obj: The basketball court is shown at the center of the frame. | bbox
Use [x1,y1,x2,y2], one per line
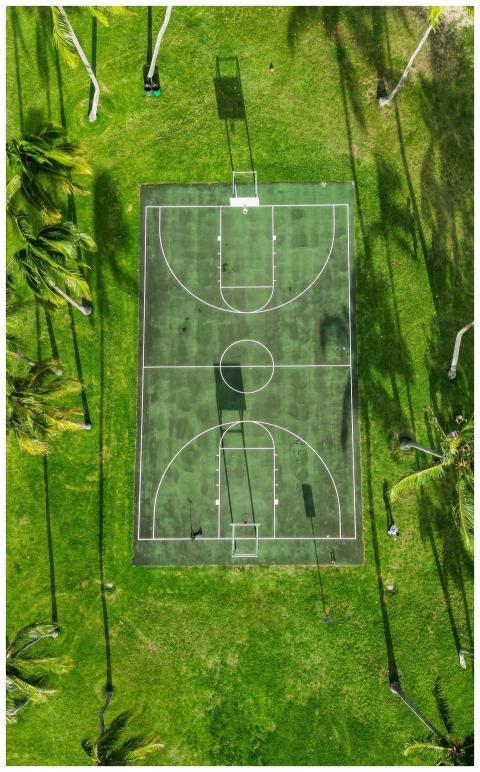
[133,180,364,567]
